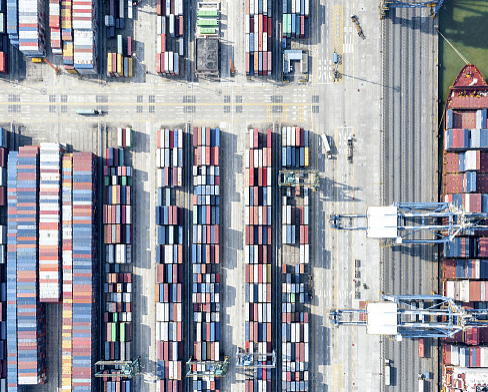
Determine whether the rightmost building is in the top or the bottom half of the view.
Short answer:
top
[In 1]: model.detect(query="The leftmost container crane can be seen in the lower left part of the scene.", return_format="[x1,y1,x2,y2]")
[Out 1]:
[94,354,148,378]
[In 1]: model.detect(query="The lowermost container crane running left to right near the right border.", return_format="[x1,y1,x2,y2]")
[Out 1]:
[331,289,488,340]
